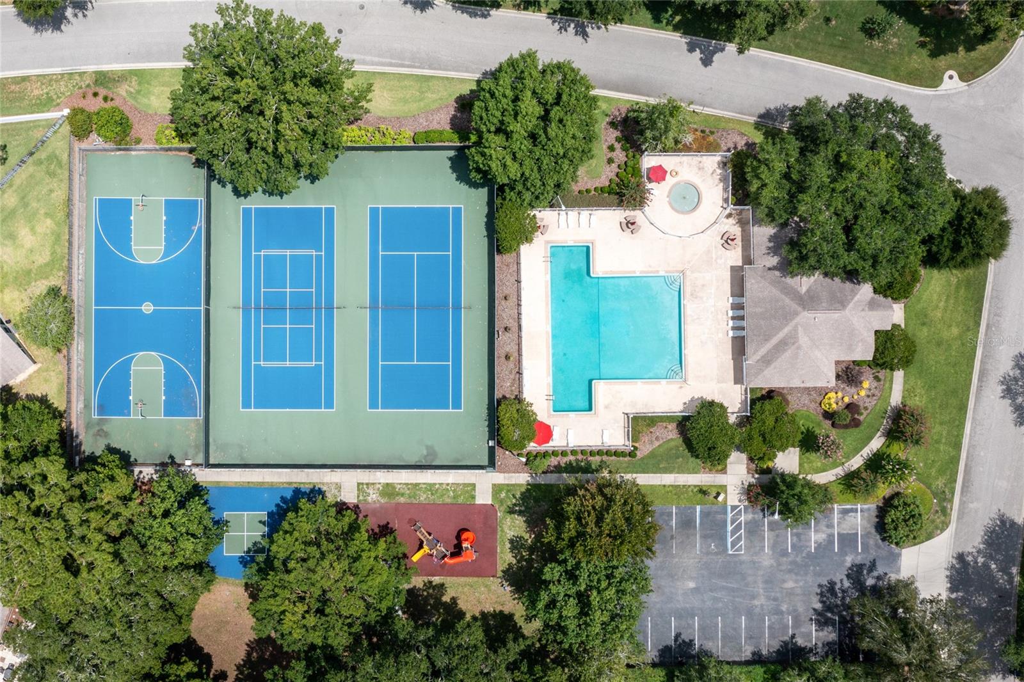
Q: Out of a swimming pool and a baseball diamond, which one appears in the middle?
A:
swimming pool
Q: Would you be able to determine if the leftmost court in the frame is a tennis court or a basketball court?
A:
basketball court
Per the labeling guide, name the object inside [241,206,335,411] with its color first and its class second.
blue tennis court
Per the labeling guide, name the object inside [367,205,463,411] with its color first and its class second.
blue tennis court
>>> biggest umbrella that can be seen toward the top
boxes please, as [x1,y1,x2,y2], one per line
[649,164,667,183]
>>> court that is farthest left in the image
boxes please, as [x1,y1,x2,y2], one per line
[84,151,204,465]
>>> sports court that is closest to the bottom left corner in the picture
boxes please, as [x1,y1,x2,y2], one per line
[198,486,325,580]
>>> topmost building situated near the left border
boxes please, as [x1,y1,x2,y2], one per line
[0,314,44,392]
